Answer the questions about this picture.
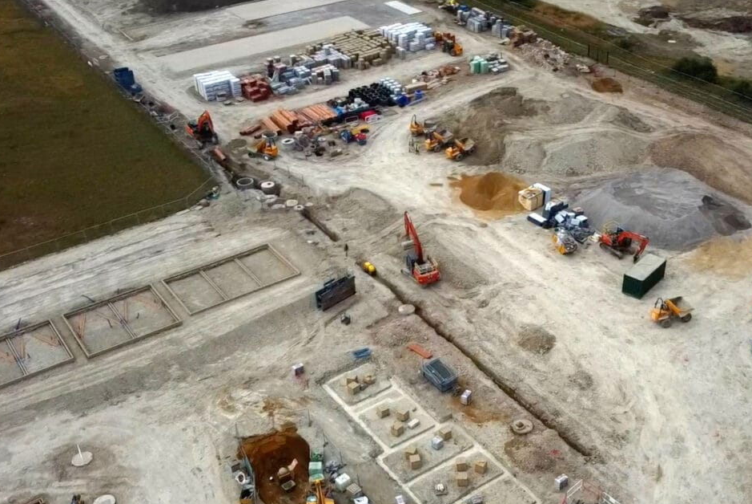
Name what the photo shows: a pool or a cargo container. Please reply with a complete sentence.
The one in the frame is a cargo container.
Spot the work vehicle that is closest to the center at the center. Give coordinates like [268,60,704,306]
[402,210,438,286]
